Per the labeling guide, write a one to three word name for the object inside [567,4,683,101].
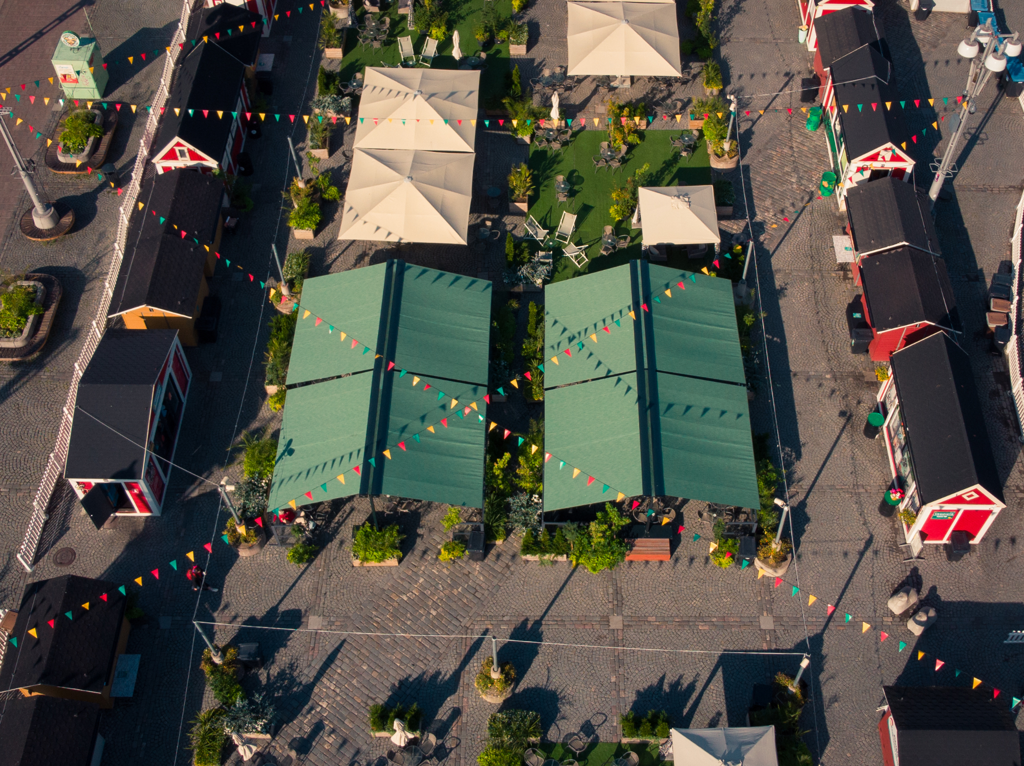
umbrella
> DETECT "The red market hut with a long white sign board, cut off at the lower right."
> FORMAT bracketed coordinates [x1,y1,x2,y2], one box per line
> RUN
[873,684,1024,766]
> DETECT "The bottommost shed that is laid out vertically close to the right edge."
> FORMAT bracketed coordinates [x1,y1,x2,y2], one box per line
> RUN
[876,331,1009,544]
